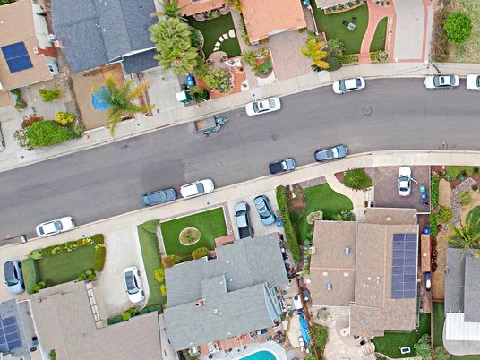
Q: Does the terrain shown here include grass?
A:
Yes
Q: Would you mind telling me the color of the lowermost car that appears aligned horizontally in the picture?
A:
white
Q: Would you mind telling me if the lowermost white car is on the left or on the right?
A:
left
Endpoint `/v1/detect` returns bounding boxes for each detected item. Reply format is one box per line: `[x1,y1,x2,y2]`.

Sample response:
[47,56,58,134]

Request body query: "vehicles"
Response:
[254,193,278,227]
[234,200,252,239]
[179,178,217,198]
[5,258,26,294]
[124,264,148,303]
[396,166,412,196]
[424,73,459,89]
[37,215,77,236]
[266,156,298,176]
[192,115,227,135]
[140,187,179,206]
[245,98,282,115]
[466,73,480,90]
[332,76,367,94]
